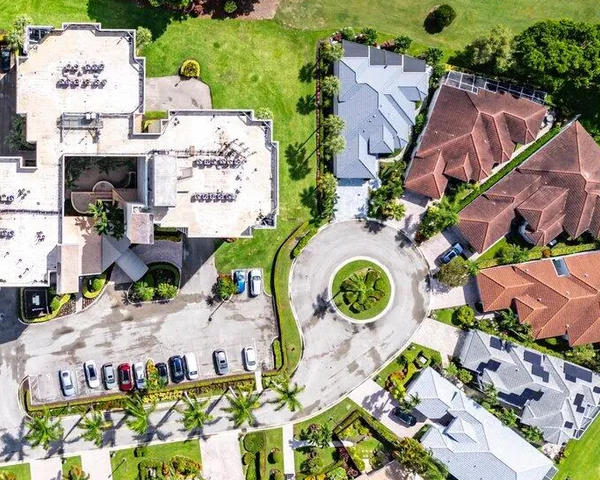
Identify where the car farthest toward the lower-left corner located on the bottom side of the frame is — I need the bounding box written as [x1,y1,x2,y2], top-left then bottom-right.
[61,368,73,395]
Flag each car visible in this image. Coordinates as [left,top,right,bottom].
[234,269,245,294]
[214,347,229,375]
[438,241,465,262]
[118,362,132,390]
[83,359,98,387]
[170,353,185,381]
[388,404,416,425]
[103,361,115,389]
[133,360,147,387]
[0,45,11,72]
[243,344,257,371]
[61,368,73,395]
[248,268,260,296]
[155,357,169,384]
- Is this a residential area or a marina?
residential area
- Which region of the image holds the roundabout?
center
